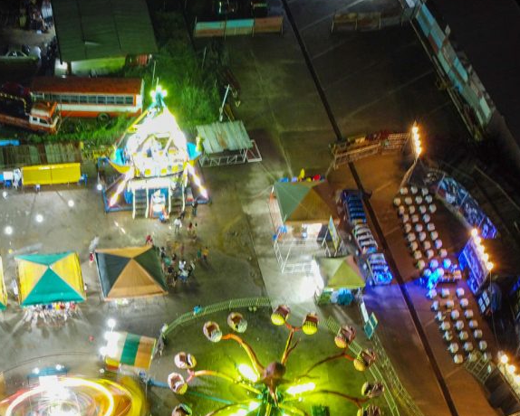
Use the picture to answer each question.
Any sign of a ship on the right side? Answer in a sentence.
No, on the right side there is no ship.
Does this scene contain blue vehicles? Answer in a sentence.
No, I can see no blue vehicle in this picture.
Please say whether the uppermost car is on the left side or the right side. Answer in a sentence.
The uppermost car appears in the left half of the scene.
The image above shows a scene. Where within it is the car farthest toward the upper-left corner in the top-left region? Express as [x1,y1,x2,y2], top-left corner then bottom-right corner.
[0,43,38,63]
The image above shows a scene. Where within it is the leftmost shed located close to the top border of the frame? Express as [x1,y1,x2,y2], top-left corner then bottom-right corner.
[54,0,157,79]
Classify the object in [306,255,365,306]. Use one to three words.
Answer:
tent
